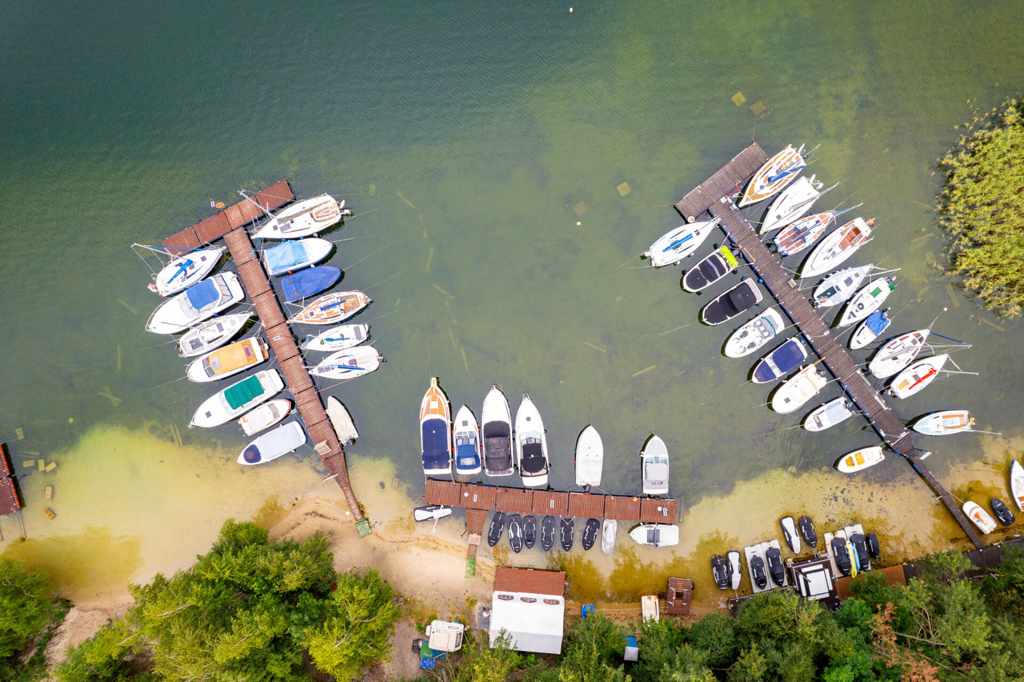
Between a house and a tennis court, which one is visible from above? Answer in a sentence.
It is a house that can be seen here.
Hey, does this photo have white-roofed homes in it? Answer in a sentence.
Yes, a white-roofed home is visible in the scene.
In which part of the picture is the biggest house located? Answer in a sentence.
The biggest house appears toward the bottom of the photo.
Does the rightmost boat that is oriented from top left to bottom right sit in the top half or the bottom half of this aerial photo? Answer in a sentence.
Seen from above, the rightmost boat that is oriented from top left to bottom right lies in the bottom half of the view.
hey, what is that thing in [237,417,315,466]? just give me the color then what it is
white boat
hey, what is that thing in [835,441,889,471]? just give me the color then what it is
white boat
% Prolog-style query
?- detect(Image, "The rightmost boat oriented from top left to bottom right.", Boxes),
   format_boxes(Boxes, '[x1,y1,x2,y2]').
[951,493,997,535]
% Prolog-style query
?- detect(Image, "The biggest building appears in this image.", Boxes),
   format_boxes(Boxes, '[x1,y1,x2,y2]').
[489,566,567,656]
